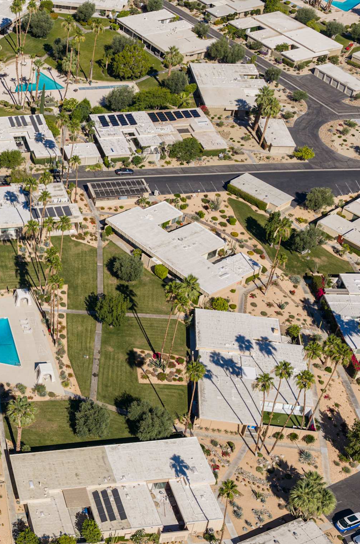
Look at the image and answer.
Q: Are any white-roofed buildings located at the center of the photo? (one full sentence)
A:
Yes, the scene does show a white-roofed building at the center of the photo.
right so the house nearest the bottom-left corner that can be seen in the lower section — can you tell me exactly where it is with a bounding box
[9,436,225,544]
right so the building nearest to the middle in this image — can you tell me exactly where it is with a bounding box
[105,202,262,309]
